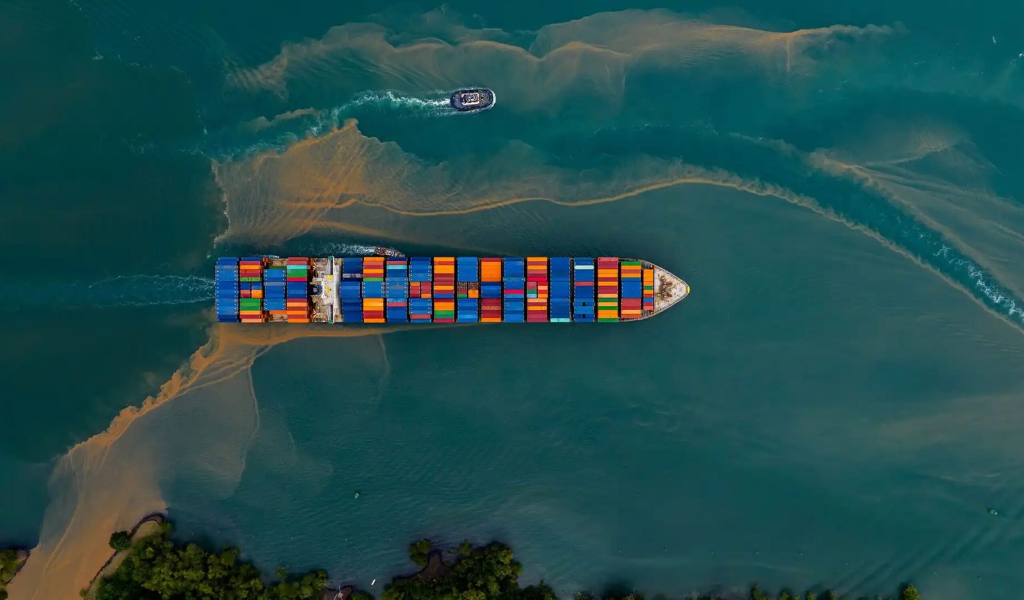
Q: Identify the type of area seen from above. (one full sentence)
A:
This image shows a port.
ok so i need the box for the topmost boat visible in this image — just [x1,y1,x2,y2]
[450,89,495,112]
